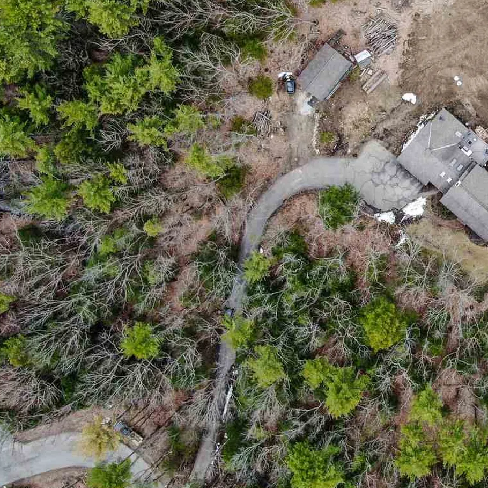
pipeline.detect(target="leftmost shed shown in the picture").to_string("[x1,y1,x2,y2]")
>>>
[298,43,353,100]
